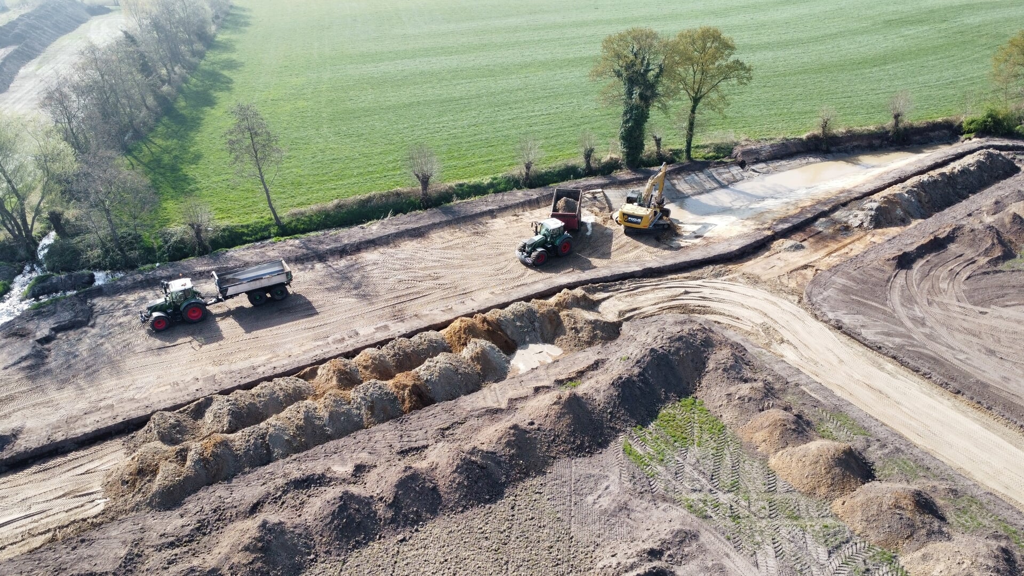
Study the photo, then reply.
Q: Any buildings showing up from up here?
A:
No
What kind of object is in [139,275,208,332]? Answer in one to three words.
work vehicle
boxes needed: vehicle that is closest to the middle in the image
[518,214,575,266]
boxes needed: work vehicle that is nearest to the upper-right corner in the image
[616,159,674,233]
